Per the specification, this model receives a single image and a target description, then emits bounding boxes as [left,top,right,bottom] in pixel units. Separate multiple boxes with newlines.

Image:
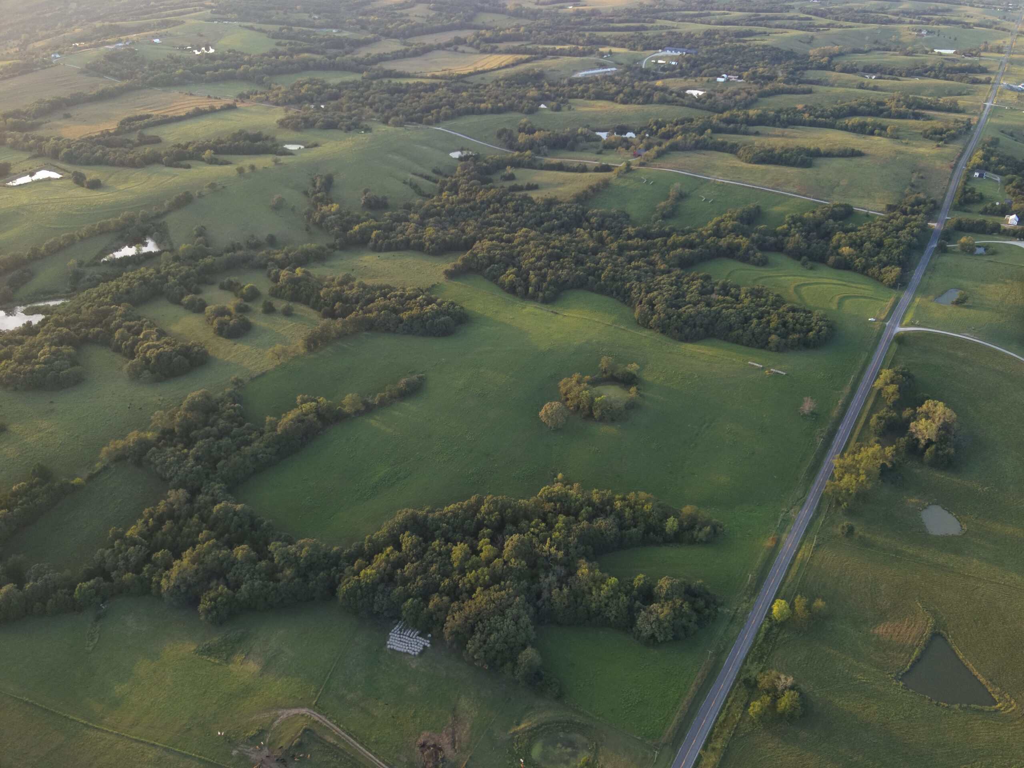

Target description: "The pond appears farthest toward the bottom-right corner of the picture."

[902,635,995,705]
